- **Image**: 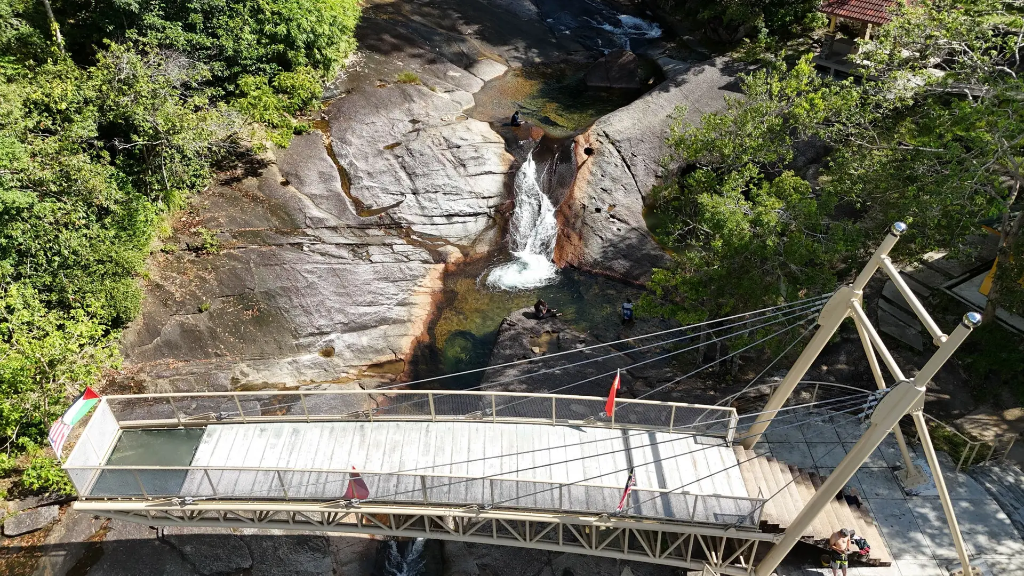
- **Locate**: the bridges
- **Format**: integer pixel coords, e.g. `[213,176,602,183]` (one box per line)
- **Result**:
[51,389,778,576]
